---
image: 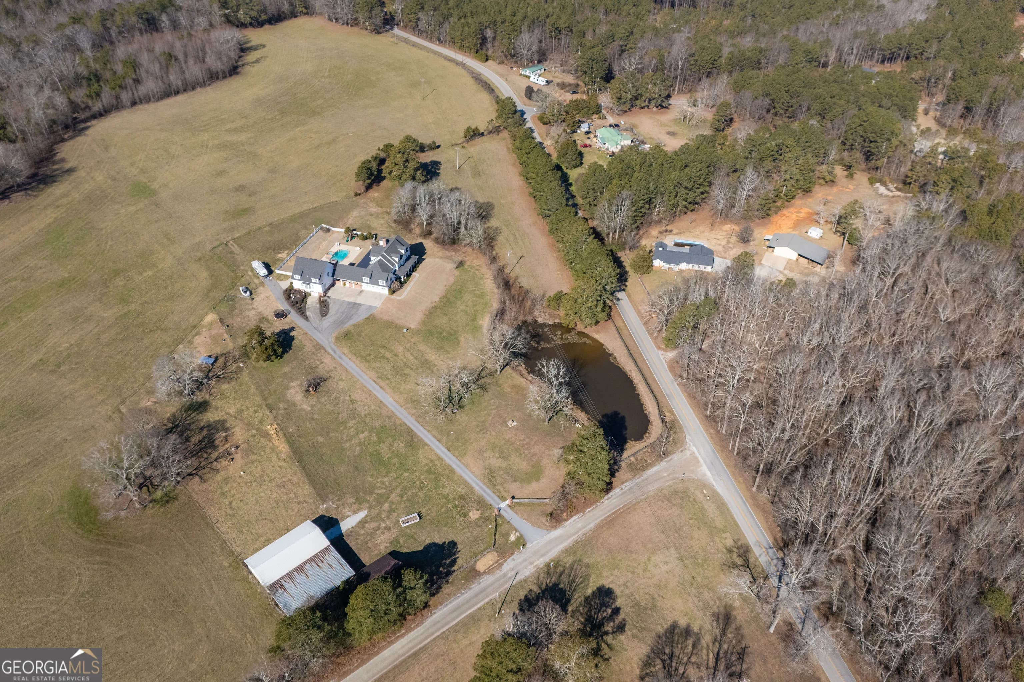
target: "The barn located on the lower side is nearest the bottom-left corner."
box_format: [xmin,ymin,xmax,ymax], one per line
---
[243,519,350,617]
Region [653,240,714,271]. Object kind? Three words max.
house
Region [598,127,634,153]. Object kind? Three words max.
building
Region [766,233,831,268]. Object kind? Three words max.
building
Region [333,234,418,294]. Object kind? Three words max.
house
